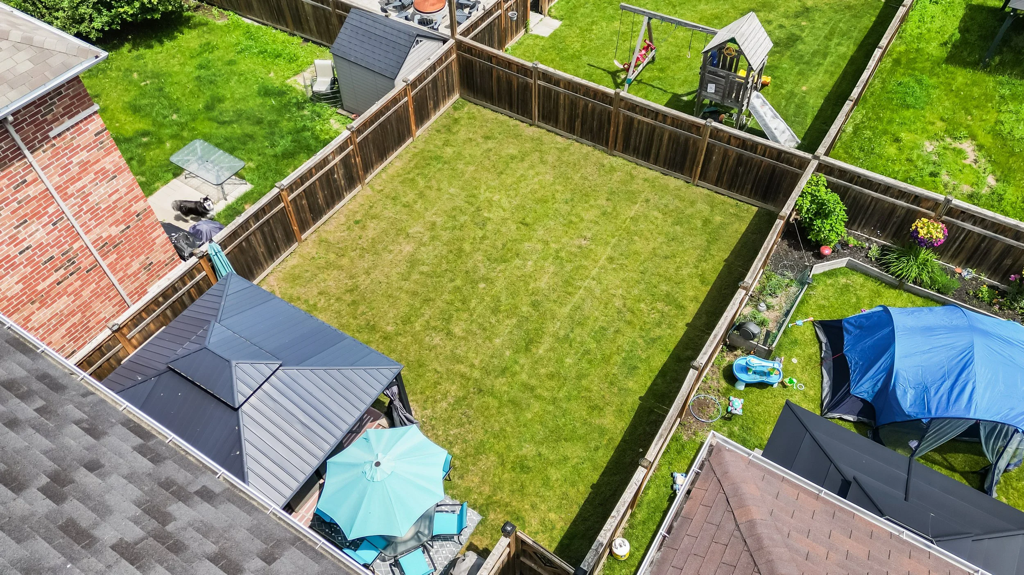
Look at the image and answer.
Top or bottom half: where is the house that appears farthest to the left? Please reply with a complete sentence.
The top half of the photo is where the house that appears farthest to the left is.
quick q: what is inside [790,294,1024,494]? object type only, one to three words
tent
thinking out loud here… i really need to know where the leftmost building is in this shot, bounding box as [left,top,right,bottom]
[0,8,183,365]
